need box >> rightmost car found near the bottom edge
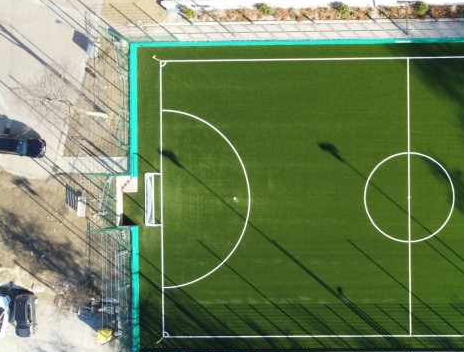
[10,292,37,337]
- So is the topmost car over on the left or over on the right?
left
